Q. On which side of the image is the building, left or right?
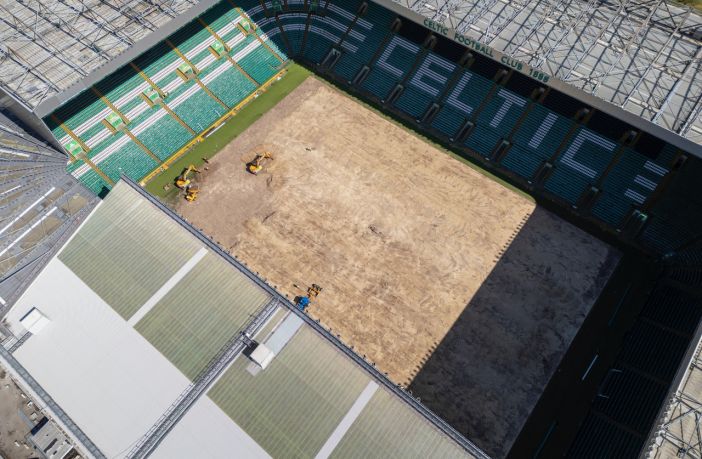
left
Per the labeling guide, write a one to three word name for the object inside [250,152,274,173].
work vehicle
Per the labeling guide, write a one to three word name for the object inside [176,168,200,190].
work vehicle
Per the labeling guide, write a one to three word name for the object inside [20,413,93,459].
building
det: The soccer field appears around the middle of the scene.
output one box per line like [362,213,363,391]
[143,67,651,459]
